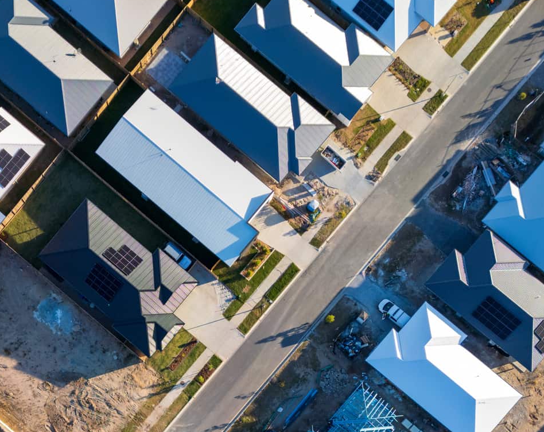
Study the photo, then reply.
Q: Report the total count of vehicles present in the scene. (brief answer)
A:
2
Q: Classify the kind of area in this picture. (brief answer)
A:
residential area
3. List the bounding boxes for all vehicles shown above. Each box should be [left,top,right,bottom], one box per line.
[380,298,412,328]
[160,239,194,272]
